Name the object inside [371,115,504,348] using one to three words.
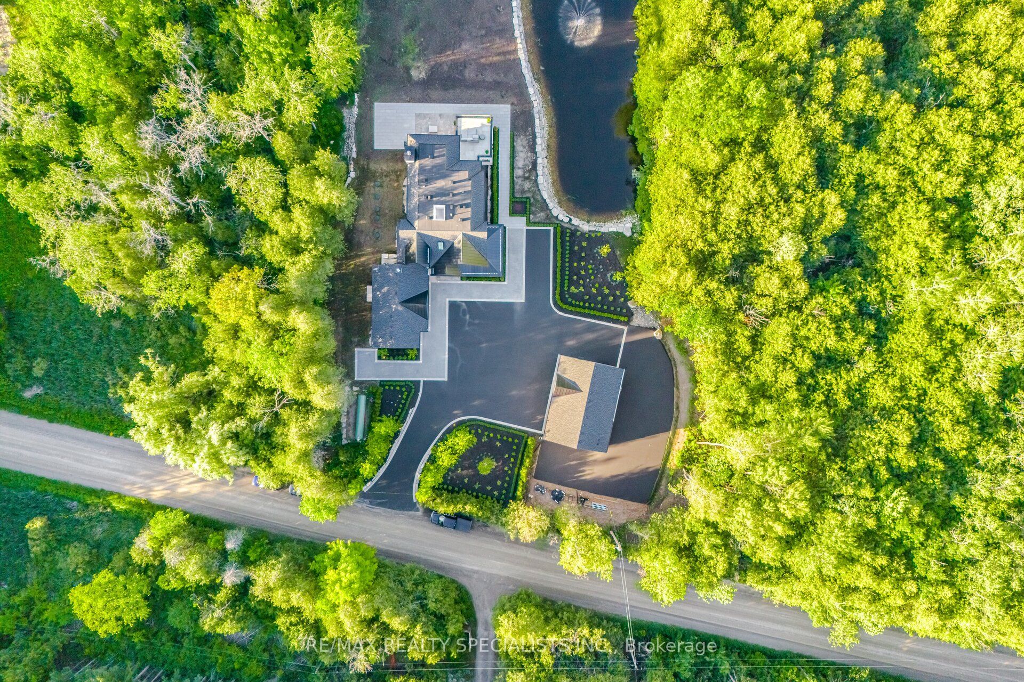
house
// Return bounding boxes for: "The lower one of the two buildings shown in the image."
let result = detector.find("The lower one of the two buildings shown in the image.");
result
[543,355,625,453]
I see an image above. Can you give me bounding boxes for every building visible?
[543,355,625,453]
[371,115,504,348]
